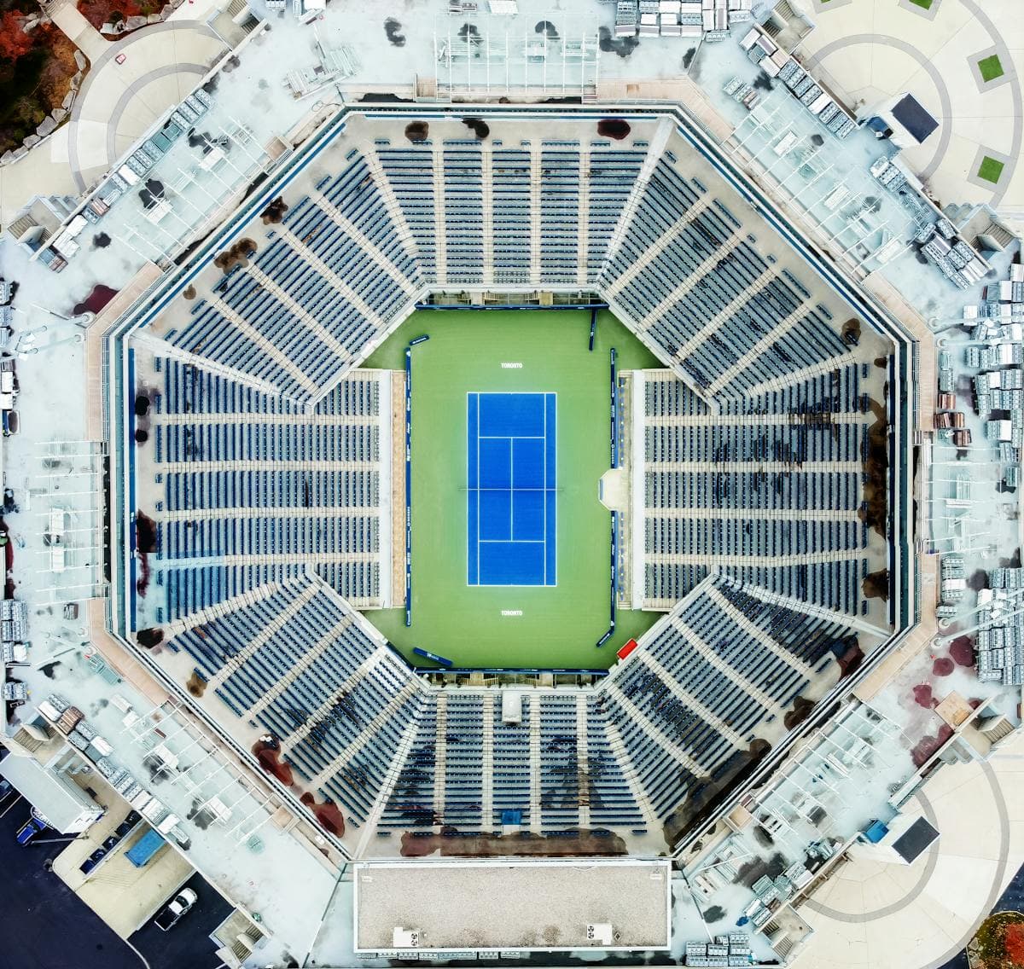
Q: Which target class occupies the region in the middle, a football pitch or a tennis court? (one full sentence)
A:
What appears in the middle is a tennis court.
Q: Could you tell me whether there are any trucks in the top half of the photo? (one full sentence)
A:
No, no truck appears in the top half of the photo.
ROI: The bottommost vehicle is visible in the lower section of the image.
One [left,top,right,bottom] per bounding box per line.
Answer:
[153,887,202,932]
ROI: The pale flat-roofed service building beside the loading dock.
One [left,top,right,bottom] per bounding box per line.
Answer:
[0,743,115,835]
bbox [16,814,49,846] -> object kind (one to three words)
truck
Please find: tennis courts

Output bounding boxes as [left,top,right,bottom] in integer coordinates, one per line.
[358,292,666,686]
